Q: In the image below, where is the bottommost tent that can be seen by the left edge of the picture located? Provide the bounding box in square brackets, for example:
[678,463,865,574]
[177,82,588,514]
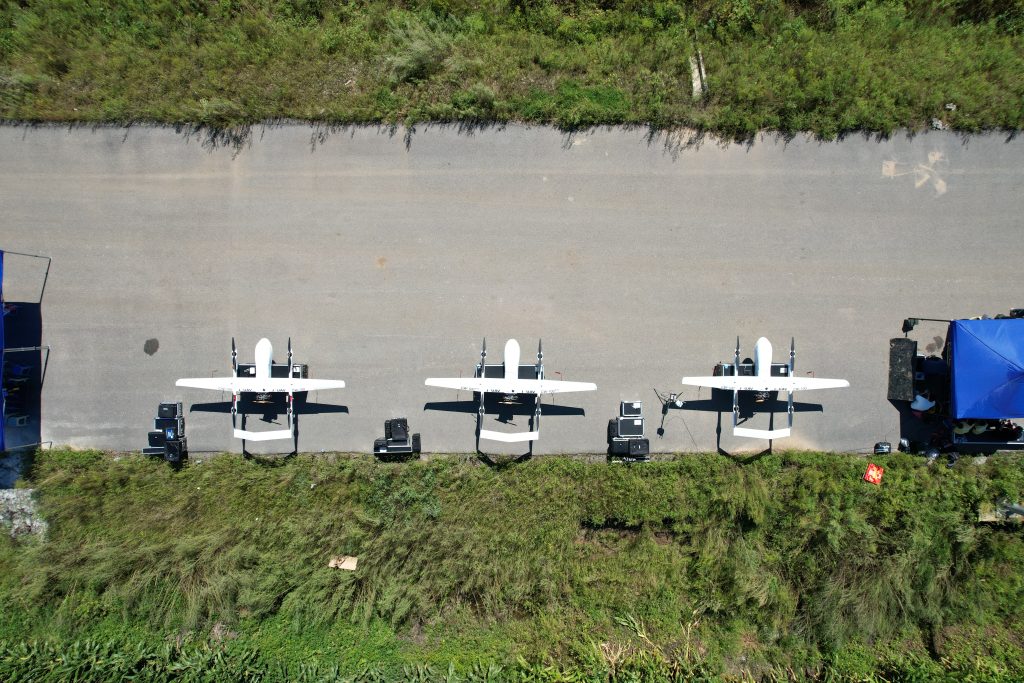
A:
[0,348,52,455]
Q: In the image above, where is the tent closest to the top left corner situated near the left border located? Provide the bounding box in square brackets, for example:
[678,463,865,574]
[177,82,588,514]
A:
[0,249,50,351]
